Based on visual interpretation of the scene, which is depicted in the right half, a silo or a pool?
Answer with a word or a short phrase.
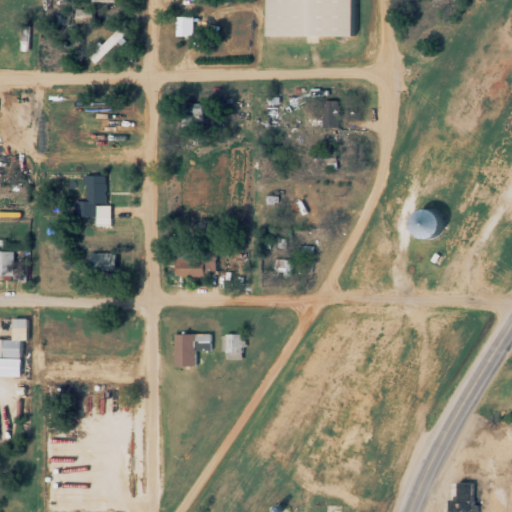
silo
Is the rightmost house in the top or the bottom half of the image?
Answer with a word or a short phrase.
bottom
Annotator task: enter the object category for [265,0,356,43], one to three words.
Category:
building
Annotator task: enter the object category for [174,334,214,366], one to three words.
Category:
house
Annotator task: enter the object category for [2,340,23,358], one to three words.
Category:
barn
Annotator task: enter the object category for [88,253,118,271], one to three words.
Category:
house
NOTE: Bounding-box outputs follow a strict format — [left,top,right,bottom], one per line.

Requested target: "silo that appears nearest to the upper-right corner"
[408,208,445,240]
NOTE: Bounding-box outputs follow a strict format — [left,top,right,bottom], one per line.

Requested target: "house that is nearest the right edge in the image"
[448,482,483,512]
